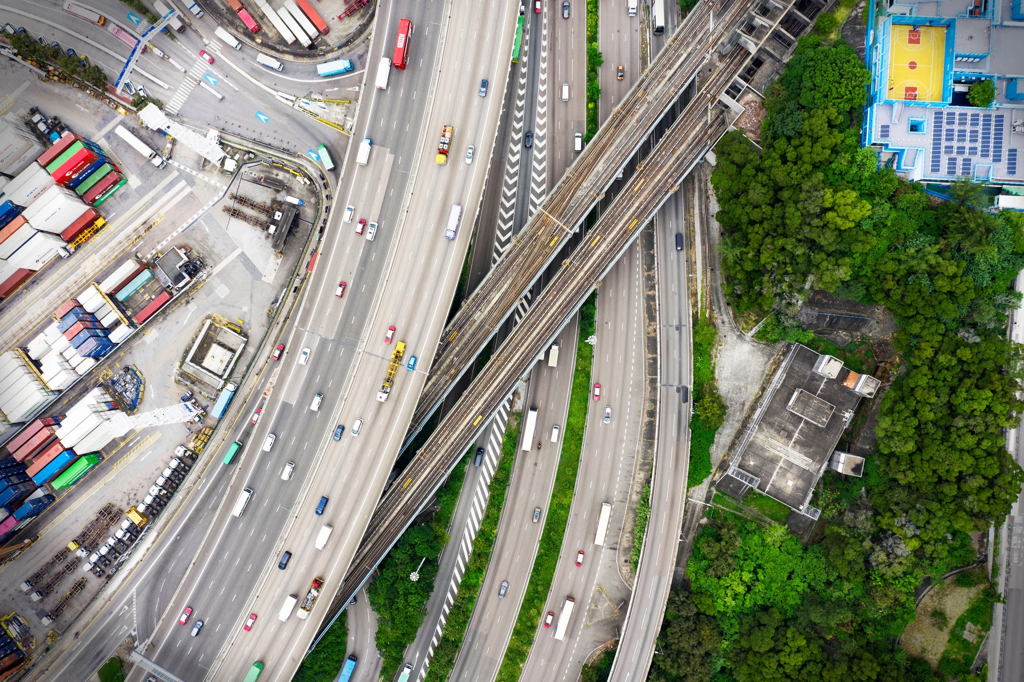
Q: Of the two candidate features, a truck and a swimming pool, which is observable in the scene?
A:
truck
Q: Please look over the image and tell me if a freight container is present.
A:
Yes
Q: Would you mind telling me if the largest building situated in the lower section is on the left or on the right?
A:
right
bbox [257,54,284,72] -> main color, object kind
white vehicle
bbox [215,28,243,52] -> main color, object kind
white truck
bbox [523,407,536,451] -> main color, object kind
white vehicle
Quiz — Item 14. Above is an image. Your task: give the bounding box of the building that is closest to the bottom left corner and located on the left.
[180,320,253,397]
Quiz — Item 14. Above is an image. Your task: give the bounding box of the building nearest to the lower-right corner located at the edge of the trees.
[716,344,881,532]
